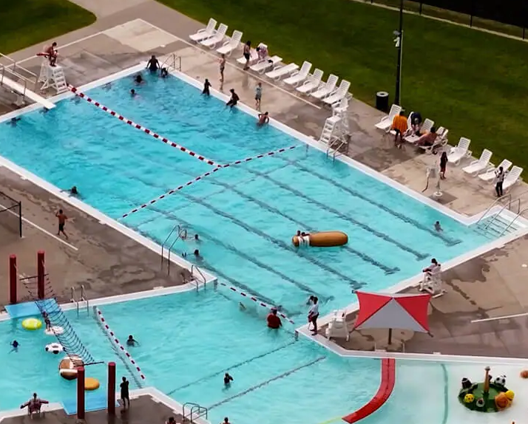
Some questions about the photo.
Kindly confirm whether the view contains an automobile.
No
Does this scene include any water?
Yes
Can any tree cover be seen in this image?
No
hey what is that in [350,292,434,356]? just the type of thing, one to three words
umbrella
